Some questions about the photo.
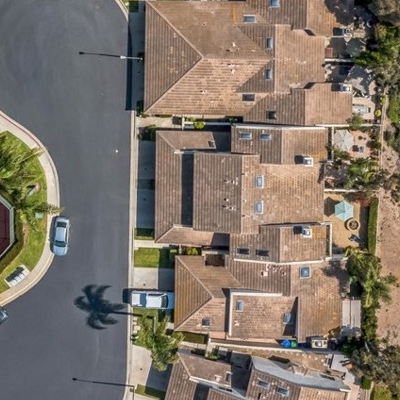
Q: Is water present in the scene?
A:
No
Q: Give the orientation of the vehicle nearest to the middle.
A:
from side to side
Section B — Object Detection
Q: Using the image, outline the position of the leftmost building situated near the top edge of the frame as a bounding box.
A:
[144,0,353,124]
